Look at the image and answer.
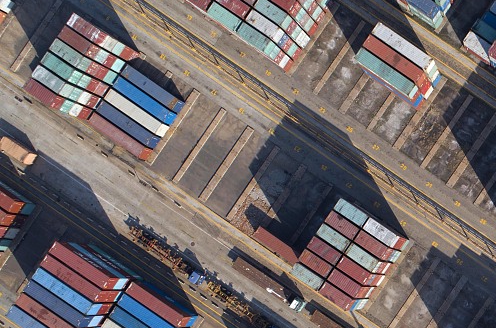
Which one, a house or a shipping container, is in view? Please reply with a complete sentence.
Looking from above, you can make out a shipping container.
